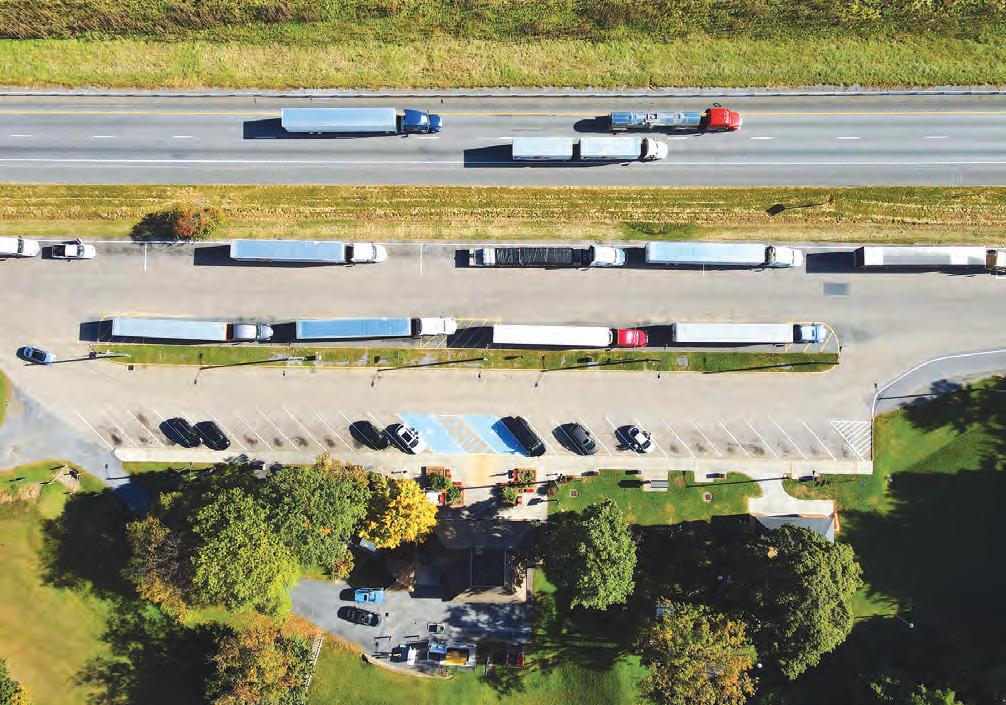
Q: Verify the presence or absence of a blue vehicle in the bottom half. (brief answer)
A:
Yes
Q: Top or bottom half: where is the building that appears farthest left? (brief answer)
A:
bottom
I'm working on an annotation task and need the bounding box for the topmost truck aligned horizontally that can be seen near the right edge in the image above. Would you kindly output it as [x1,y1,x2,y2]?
[852,247,1006,271]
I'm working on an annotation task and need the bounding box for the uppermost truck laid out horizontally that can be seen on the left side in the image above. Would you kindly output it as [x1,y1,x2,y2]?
[281,108,443,135]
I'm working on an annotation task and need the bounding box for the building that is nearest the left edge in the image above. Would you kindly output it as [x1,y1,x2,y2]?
[416,519,536,602]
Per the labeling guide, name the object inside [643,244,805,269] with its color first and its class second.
white truck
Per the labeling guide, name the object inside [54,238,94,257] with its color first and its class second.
white vehicle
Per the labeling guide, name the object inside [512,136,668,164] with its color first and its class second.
white truck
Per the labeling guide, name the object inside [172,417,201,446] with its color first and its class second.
black car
